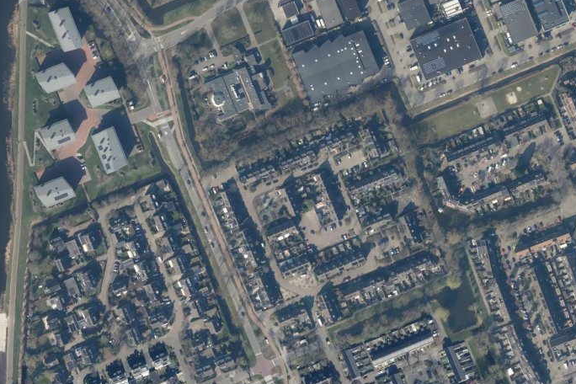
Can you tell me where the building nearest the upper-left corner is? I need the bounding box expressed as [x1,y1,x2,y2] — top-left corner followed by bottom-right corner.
[47,5,82,55]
